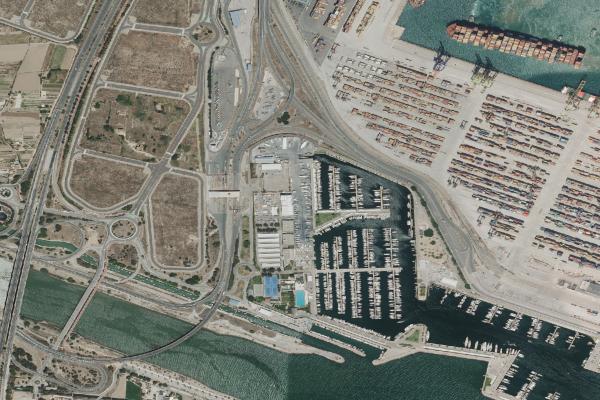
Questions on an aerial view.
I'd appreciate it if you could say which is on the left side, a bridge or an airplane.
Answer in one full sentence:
It is a bridge that can be seen on the left side.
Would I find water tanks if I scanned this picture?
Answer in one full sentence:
No, I find no water tank anywhere in the image.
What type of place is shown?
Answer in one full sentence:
The picture captures a port.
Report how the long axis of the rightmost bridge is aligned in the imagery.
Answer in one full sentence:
I'd say the rightmost bridge is aligned on a diagonal in the picture.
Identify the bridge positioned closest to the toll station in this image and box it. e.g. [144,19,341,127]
[118,262,232,362]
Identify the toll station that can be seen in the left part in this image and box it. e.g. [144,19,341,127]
[207,114,256,262]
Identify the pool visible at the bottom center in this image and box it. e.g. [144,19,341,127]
[294,281,306,309]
